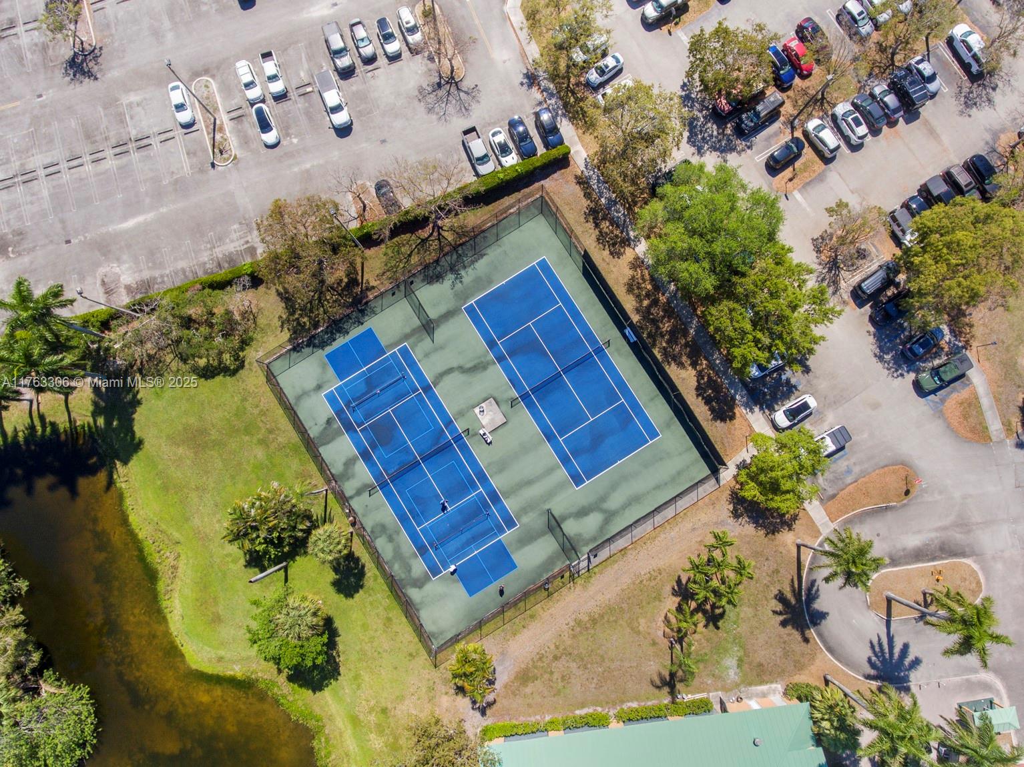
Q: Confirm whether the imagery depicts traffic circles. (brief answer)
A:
Yes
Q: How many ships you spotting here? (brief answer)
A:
0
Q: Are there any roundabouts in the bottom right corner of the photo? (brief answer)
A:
Yes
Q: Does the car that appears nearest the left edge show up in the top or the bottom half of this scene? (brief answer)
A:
top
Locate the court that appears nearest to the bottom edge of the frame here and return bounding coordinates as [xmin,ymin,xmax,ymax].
[406,464,519,601]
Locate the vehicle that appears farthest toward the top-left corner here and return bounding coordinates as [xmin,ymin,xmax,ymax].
[169,84,197,127]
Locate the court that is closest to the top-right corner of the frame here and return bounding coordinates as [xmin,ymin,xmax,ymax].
[462,256,662,490]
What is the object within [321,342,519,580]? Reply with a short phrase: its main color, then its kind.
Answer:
blue tennis court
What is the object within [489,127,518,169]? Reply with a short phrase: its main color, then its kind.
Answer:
white car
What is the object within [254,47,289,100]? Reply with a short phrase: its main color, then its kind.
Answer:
white truck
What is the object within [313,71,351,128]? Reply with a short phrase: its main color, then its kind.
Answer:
white truck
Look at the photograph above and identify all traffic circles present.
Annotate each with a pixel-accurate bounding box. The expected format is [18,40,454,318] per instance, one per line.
[866,559,984,620]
